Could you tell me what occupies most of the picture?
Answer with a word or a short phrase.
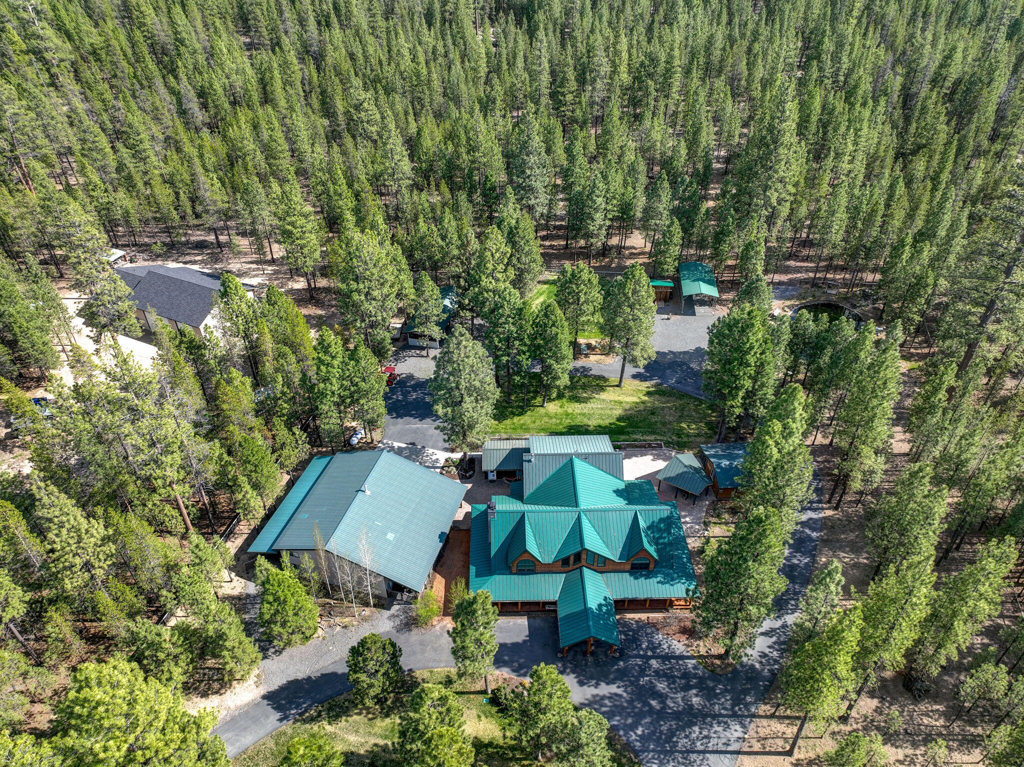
trees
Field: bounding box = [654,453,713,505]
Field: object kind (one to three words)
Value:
gazebo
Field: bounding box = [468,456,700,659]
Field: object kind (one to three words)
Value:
house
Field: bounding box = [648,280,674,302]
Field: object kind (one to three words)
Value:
shed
